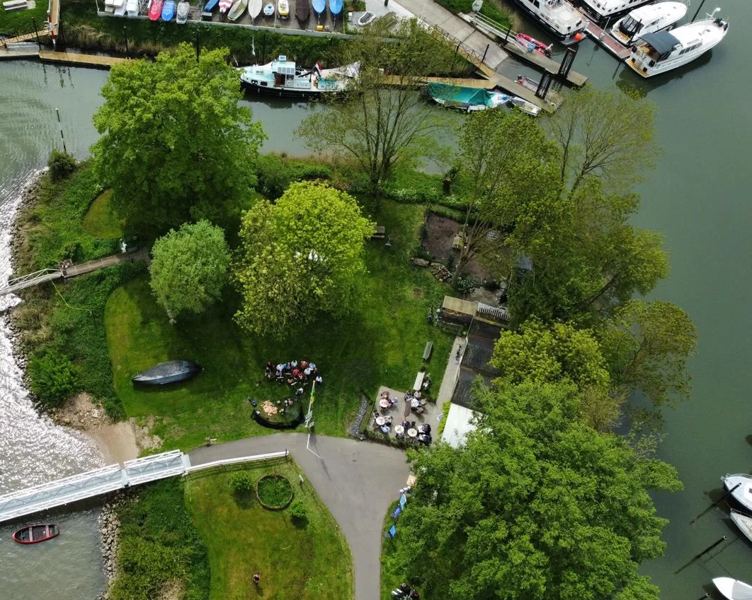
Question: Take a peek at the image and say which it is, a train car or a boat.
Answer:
boat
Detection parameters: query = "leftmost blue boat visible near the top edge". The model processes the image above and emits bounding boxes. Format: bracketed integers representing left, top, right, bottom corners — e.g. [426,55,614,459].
[161,0,176,27]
